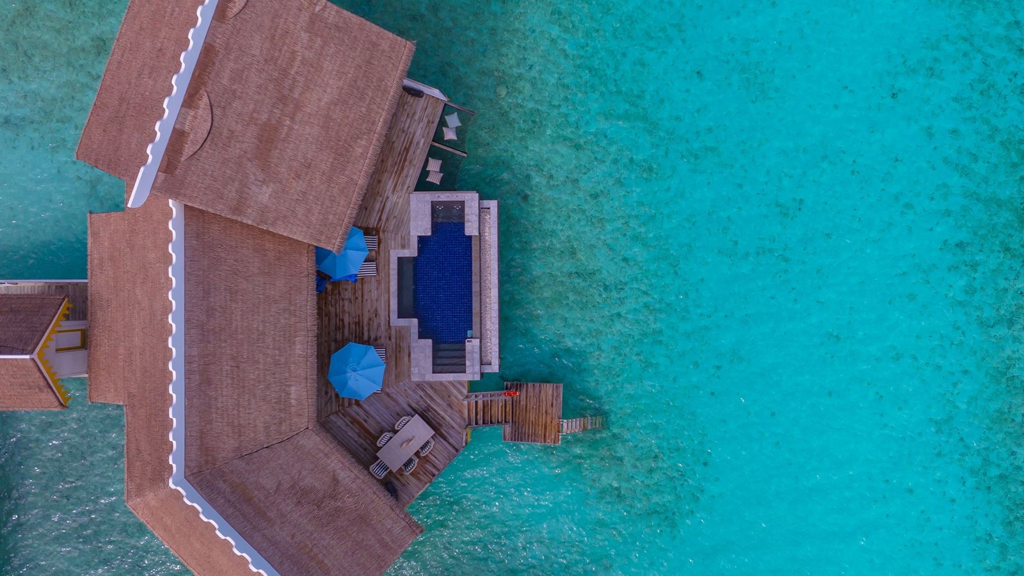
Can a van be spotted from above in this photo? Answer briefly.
No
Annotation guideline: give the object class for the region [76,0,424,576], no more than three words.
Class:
house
